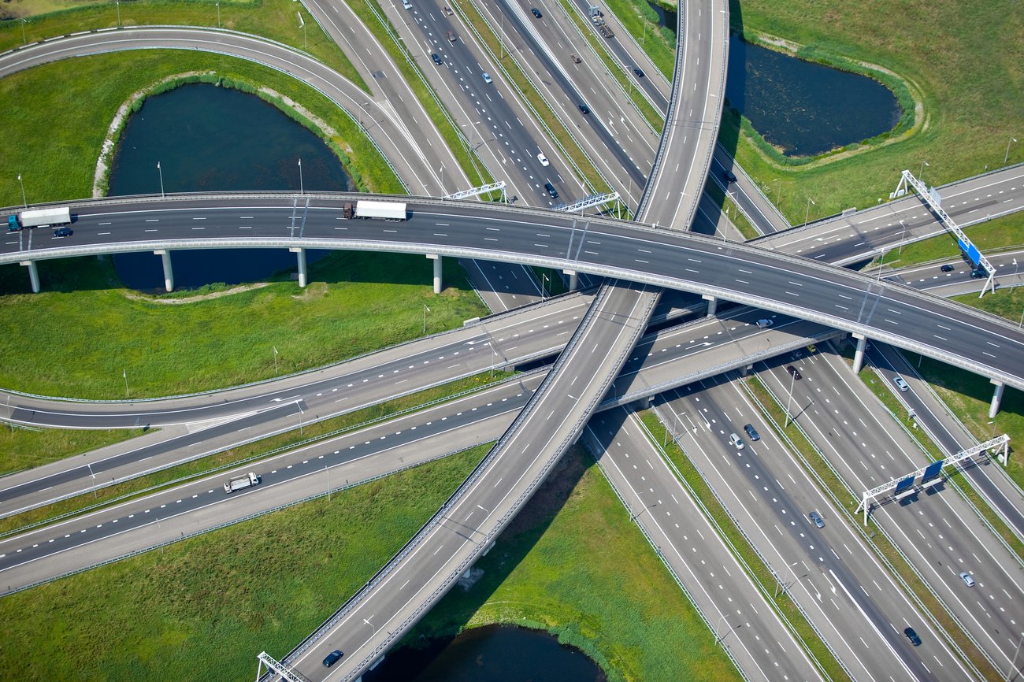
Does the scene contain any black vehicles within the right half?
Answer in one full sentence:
Yes, you'll find a black vehicle within the right half.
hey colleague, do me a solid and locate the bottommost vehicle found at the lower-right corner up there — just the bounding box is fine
[904,627,921,646]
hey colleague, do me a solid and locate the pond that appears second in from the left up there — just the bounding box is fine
[354,624,605,682]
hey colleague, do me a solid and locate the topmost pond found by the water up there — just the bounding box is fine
[723,35,901,156]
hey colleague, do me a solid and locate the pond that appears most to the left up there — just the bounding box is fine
[107,83,352,292]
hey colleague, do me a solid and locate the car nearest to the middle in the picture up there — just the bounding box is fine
[545,183,558,197]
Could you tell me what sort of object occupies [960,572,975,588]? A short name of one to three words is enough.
car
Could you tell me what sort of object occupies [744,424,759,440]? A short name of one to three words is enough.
car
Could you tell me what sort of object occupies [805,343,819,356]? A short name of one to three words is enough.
vehicle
